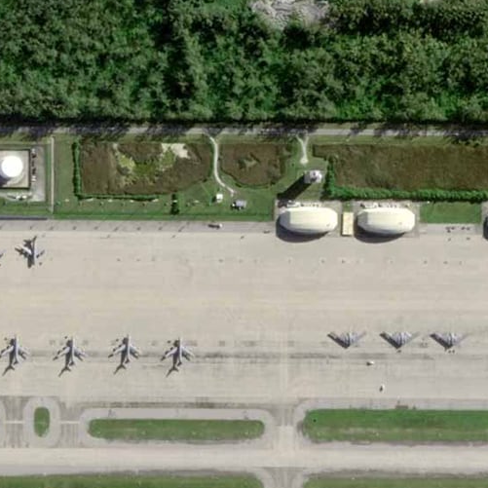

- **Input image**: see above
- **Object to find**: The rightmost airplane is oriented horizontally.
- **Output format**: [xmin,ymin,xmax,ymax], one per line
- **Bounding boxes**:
[433,332,468,347]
